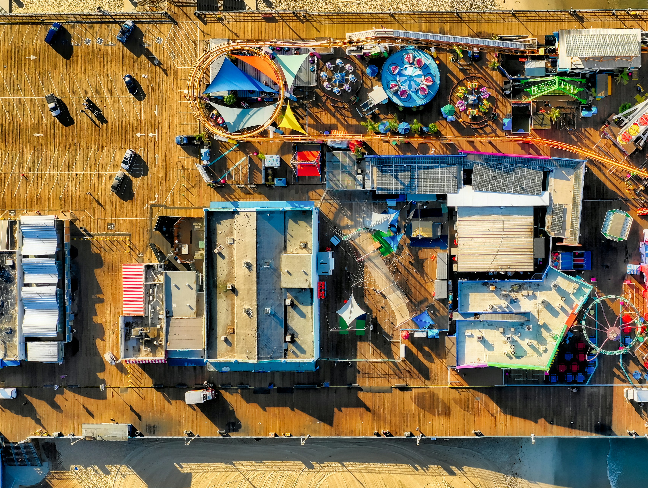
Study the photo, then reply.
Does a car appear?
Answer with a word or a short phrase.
Yes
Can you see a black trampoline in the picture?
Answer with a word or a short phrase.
No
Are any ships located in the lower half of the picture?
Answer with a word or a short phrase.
No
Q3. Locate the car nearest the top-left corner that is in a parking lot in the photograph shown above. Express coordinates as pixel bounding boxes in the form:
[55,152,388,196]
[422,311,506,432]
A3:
[44,21,63,47]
